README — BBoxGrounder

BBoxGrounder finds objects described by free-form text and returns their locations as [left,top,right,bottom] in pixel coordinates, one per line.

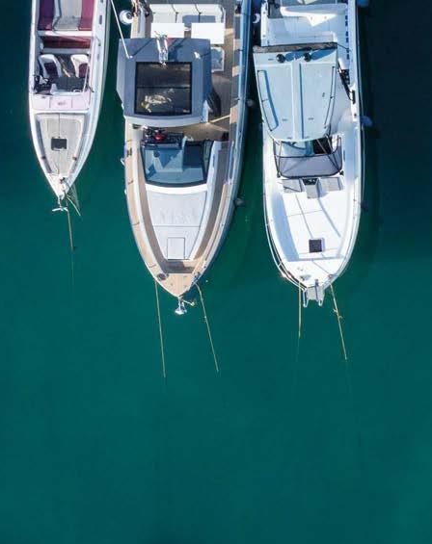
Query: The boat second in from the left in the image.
[111,0,252,314]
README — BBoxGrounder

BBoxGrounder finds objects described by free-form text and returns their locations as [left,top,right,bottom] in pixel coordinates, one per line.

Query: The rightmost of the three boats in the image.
[254,0,363,306]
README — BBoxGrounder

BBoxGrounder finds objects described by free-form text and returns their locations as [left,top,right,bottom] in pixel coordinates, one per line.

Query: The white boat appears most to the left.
[29,0,112,211]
